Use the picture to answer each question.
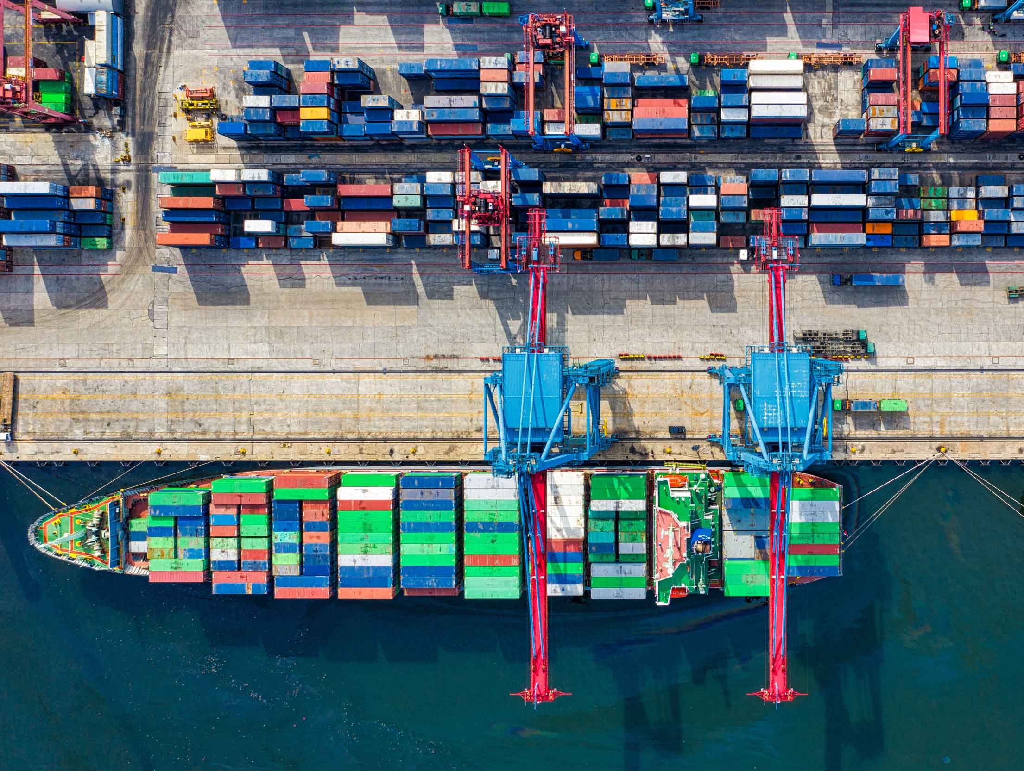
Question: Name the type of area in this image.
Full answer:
This looks like a port.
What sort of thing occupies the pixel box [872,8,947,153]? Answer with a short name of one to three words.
container crane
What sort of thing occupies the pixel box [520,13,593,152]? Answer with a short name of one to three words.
container crane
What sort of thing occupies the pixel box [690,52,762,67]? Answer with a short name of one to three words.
vehicle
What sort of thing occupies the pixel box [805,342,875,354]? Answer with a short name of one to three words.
vehicle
